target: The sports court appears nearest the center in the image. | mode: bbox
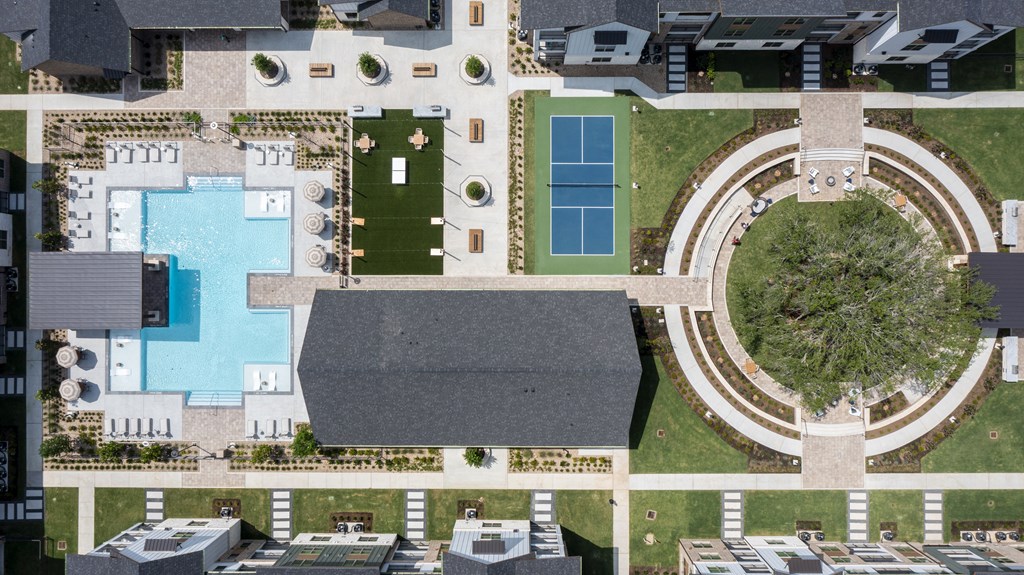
[535,97,630,275]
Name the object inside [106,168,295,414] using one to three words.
swimming pool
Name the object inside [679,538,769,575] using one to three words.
house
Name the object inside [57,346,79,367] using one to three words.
umbrella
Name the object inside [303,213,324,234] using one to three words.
umbrella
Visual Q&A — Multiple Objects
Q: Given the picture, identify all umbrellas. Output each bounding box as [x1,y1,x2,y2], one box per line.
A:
[303,213,324,234]
[60,379,82,399]
[305,247,327,267]
[57,346,79,367]
[304,181,325,201]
